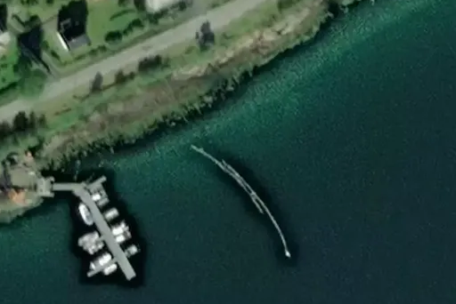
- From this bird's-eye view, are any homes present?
Yes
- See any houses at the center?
No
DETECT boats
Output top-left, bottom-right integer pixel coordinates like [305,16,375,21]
[125,247,138,255]
[92,194,101,202]
[115,233,129,244]
[82,237,98,249]
[104,263,118,274]
[112,224,127,236]
[92,253,113,268]
[80,204,94,226]
[79,229,98,243]
[90,243,103,252]
[105,209,119,220]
